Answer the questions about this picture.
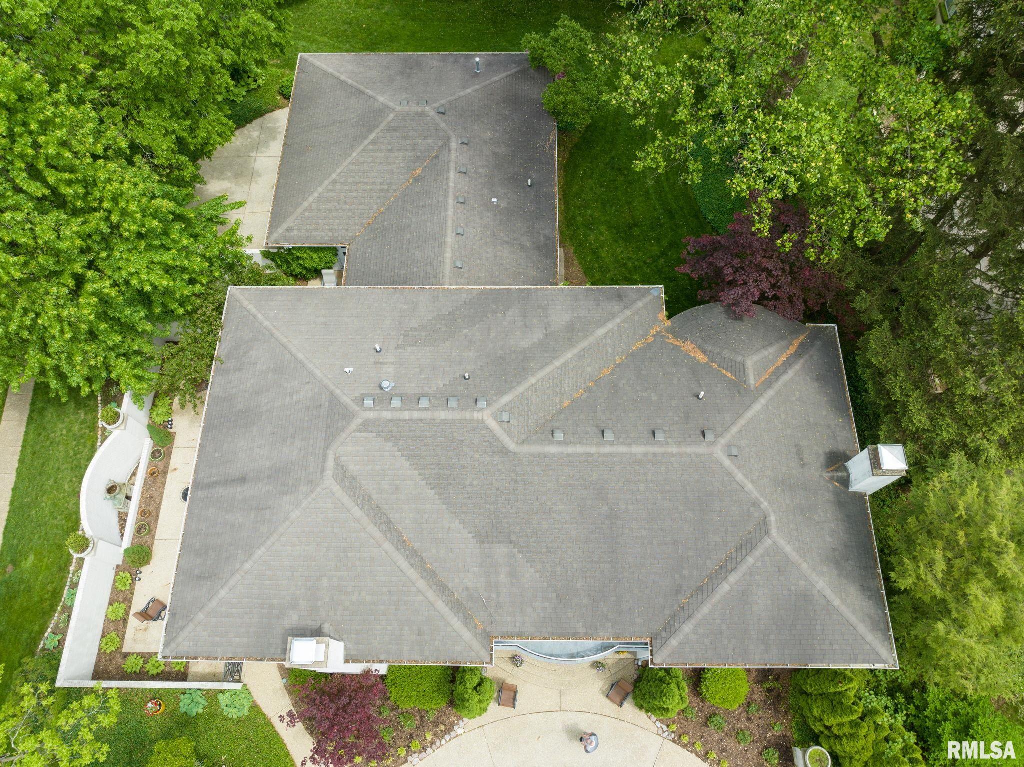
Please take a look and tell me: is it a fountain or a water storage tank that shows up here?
fountain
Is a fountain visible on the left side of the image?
Yes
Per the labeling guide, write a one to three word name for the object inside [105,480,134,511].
fountain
